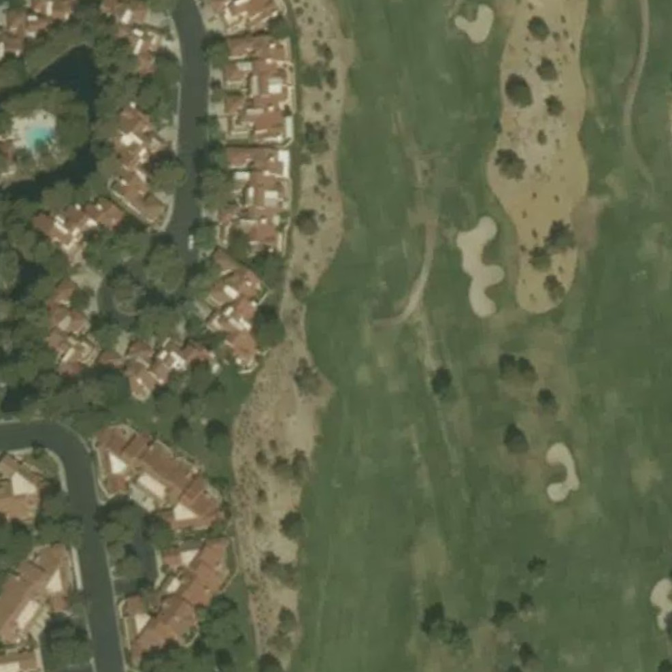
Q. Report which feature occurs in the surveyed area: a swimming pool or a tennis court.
swimming pool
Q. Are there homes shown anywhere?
Yes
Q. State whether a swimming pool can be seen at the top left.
Yes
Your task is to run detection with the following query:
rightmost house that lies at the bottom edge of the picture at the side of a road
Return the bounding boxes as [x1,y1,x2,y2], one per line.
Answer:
[119,528,238,667]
